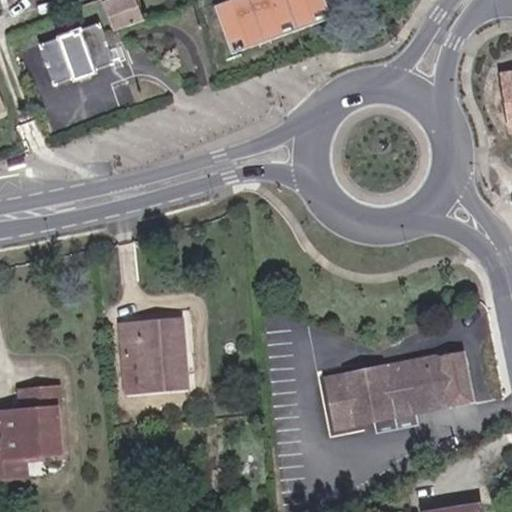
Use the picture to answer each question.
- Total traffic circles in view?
1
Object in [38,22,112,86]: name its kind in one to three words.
house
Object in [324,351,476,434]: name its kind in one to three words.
building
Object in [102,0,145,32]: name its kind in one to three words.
house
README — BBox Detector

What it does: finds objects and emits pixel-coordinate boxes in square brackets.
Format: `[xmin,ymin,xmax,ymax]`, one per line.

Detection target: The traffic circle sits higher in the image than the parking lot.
[300,74,464,238]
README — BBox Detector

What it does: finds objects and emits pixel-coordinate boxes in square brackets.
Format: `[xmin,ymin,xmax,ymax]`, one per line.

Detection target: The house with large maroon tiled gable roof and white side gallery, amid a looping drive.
[118,310,195,398]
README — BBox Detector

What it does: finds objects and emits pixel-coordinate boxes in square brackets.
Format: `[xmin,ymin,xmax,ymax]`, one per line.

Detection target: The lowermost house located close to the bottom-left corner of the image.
[0,405,65,486]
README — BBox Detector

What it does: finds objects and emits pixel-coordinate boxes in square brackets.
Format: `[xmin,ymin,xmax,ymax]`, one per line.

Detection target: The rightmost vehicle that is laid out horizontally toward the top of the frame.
[341,94,364,108]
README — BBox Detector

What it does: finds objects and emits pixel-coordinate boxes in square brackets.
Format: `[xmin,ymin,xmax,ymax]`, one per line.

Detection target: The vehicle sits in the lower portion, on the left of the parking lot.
[116,306,136,318]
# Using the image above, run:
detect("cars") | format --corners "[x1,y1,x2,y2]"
[438,438,454,448]
[416,487,434,497]
[462,304,473,325]
[8,0,31,18]
[116,306,136,318]
[242,165,264,176]
[341,94,364,108]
